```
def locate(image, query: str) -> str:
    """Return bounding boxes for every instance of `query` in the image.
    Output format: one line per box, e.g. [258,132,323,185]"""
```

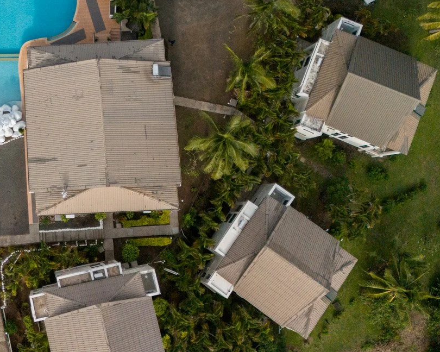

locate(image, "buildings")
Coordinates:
[29,259,169,352]
[201,184,357,338]
[282,17,438,158]
[24,39,183,218]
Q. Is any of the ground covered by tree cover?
Yes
